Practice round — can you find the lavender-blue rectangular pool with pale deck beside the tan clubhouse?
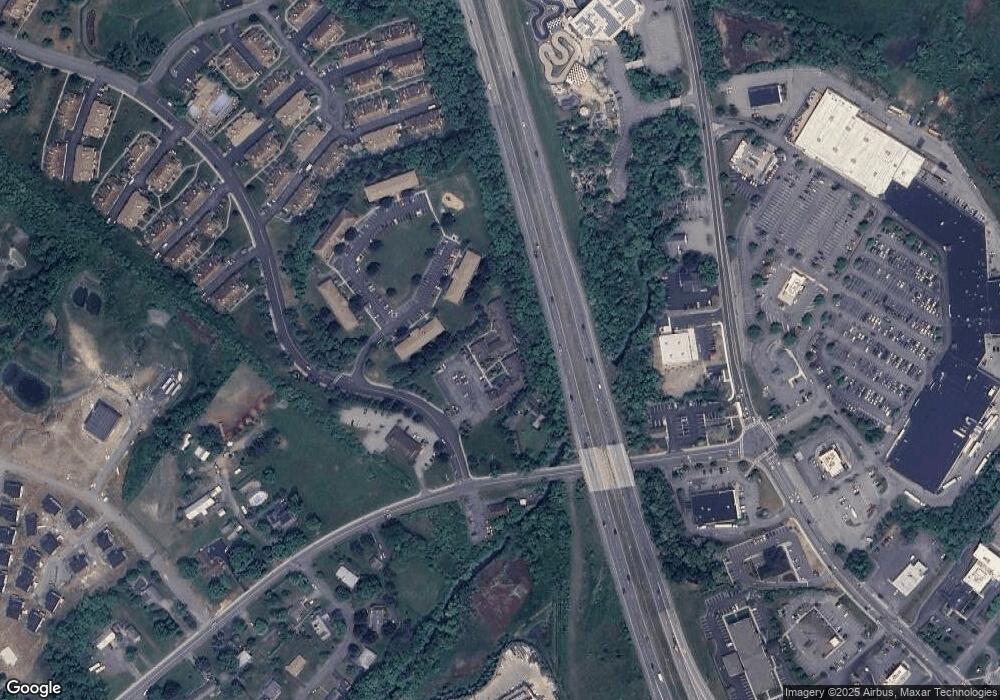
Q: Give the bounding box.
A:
[204,87,234,119]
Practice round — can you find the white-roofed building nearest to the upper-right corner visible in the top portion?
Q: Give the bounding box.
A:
[792,89,926,202]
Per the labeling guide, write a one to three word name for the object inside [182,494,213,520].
barn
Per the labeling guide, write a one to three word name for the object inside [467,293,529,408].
house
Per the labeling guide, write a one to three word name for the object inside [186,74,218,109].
building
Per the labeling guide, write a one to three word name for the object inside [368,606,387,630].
house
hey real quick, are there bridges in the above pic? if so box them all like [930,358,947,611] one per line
[581,436,633,495]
